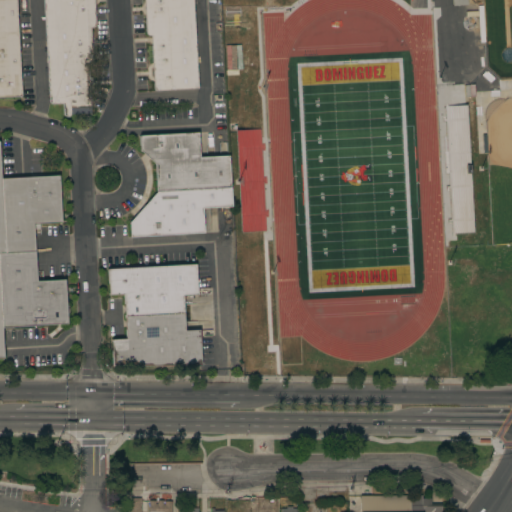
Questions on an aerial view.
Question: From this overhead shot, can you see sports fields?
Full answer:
Yes, looking at the shot, I can spot a sports field.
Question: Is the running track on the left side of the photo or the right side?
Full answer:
It is on the right.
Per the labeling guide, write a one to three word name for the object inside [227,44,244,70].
shed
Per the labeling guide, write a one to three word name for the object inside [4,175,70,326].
building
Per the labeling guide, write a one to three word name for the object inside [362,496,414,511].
house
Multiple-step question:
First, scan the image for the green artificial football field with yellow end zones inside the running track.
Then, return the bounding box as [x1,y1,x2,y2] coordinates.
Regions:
[289,51,423,298]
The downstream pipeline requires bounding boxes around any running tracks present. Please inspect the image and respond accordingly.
[264,0,446,362]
